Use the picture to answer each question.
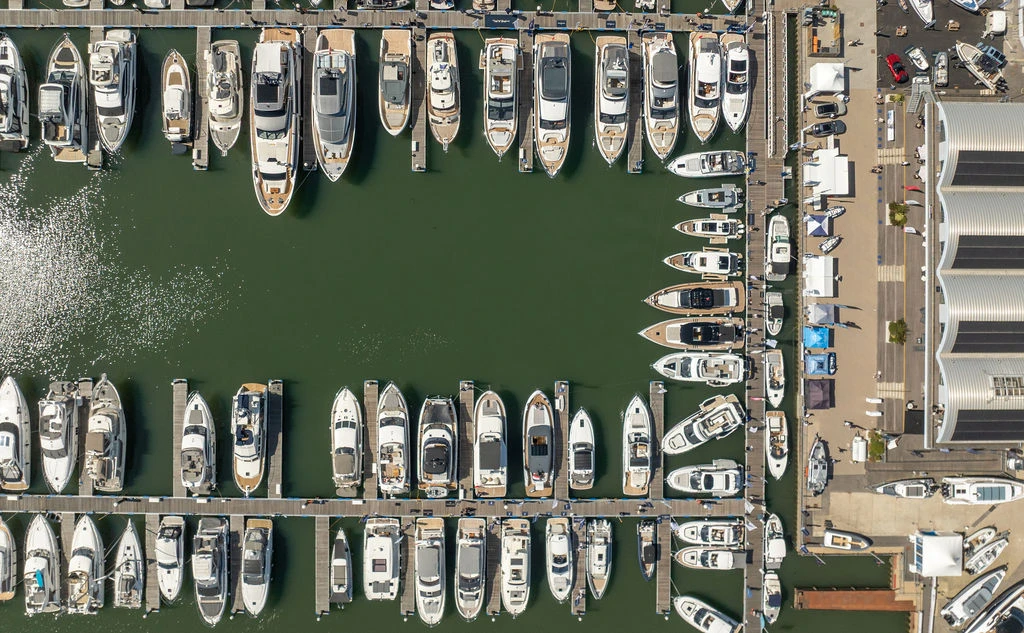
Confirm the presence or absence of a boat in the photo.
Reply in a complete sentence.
Yes, there is a boat in the image.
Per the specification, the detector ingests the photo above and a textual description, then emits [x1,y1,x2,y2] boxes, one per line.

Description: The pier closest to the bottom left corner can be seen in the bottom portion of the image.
[61,515,75,601]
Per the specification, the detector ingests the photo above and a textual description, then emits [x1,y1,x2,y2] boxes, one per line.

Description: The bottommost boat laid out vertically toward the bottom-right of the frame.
[763,571,781,623]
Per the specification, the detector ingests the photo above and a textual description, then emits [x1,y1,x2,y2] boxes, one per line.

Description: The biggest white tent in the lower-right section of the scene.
[904,527,964,576]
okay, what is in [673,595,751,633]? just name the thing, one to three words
boat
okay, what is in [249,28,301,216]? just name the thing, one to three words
boat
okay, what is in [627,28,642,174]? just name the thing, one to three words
pier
